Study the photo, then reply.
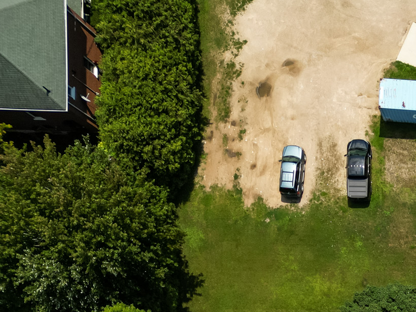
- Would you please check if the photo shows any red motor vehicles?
No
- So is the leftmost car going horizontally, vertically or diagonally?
vertically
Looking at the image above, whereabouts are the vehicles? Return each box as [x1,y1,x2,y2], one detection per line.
[345,138,373,202]
[277,144,304,197]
